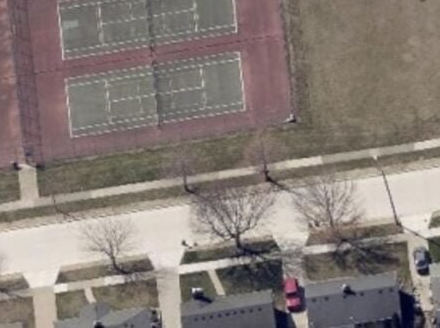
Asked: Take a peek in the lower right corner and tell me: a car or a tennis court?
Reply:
car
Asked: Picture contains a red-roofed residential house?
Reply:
No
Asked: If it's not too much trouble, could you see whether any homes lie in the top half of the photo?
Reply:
No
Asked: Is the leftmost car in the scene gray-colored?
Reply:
No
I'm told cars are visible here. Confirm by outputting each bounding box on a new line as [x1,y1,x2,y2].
[284,278,304,310]
[412,246,430,276]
